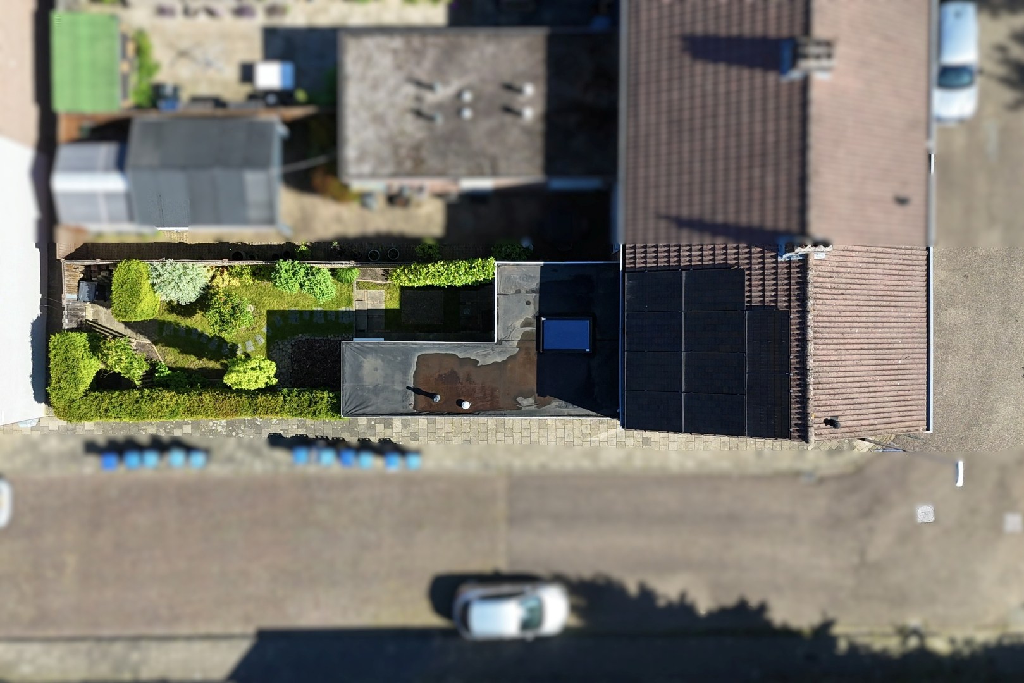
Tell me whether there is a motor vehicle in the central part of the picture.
No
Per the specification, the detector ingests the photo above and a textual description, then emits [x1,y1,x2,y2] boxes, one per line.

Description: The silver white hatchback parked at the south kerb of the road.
[454,579,570,642]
